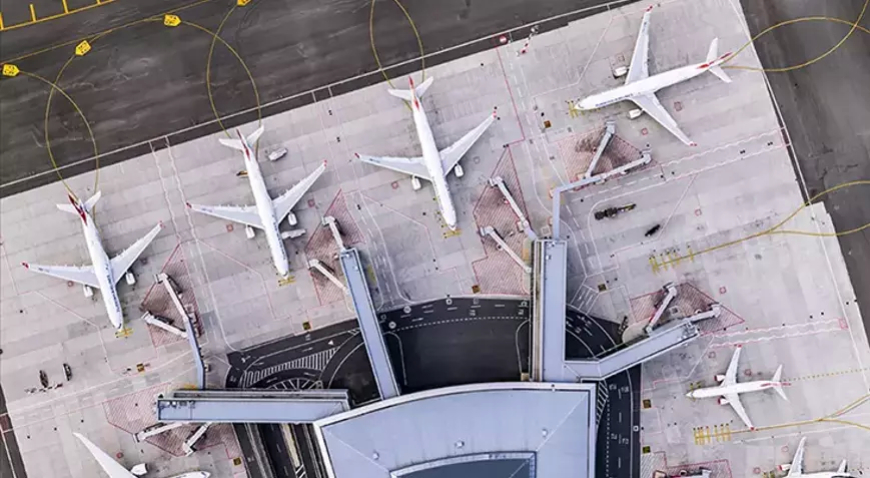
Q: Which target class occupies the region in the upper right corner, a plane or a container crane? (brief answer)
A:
plane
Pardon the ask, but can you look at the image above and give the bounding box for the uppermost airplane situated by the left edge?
[23,190,157,330]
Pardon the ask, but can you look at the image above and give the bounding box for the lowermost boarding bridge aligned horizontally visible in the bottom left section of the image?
[133,422,192,442]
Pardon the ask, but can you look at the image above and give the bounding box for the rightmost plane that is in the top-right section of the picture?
[575,11,717,146]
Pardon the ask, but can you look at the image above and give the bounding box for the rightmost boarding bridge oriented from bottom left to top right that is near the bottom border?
[184,422,217,455]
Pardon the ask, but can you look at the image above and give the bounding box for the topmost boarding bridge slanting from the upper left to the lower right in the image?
[489,180,531,229]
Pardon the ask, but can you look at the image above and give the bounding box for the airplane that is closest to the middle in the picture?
[359,87,495,229]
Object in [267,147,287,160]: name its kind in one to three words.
vehicle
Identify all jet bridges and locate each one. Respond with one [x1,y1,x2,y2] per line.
[644,284,675,335]
[481,229,534,274]
[141,314,192,340]
[322,216,349,252]
[489,180,531,229]
[184,422,217,455]
[155,276,193,318]
[602,152,650,183]
[307,261,351,295]
[586,125,613,180]
[133,422,192,442]
[684,303,721,323]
